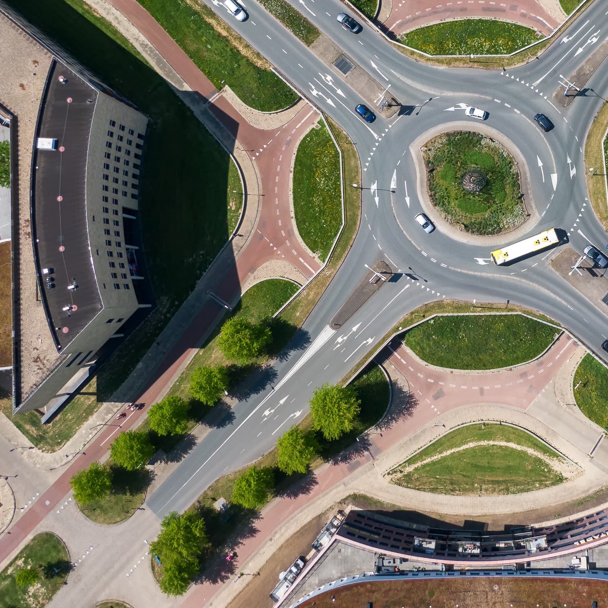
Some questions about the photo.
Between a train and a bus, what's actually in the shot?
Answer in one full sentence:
The image shows a bus.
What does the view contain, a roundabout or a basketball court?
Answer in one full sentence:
The one in the frame is a roundabout.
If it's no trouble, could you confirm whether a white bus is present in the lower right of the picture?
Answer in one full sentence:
No, no white bus appears in the lower right of the picture.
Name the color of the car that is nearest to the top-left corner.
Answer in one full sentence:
The car that is nearest to the top-left corner is white.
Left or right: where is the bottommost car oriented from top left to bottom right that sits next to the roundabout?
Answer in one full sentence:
You can find the bottommost car oriented from top left to bottom right that sits next to the roundabout on the right side of the picture.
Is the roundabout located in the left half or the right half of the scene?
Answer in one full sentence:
You can find the roundabout on the right side of the picture.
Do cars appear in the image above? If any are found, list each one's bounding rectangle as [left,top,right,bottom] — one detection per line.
[413,210,436,235]
[583,243,608,270]
[463,106,489,122]
[353,102,376,124]
[224,0,248,22]
[531,111,554,133]
[600,338,608,353]
[335,11,360,36]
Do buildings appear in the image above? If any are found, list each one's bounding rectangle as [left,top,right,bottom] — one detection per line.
[0,0,153,424]
[257,501,608,608]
